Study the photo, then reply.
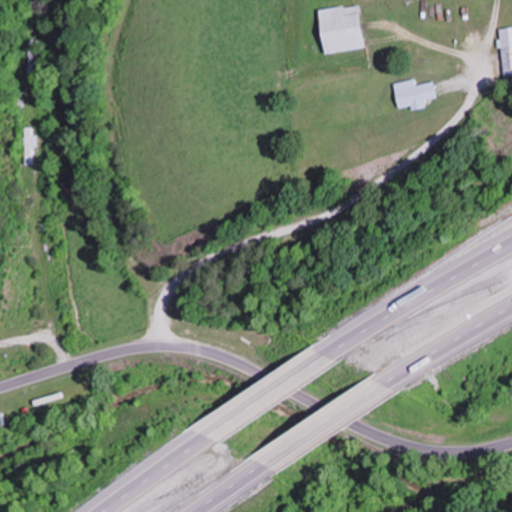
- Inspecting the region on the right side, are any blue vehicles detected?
No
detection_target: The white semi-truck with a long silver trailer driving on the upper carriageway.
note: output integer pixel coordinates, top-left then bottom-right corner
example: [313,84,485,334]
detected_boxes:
[391,285,429,310]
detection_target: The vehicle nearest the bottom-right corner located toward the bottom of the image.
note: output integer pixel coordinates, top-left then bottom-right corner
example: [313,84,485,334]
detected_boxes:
[409,357,431,372]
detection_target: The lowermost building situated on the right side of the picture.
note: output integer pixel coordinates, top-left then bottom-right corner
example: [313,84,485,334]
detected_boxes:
[394,79,436,110]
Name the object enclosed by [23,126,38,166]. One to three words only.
house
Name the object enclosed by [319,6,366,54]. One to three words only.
barn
